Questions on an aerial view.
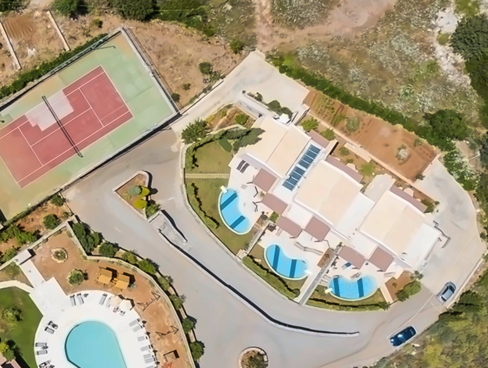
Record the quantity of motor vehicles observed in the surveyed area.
2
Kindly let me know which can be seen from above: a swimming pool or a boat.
swimming pool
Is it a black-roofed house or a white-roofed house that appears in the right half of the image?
white-roofed house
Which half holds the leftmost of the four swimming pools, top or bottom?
bottom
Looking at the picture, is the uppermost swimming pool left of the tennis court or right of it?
to its right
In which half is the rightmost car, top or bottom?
bottom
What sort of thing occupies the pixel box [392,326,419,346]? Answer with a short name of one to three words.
car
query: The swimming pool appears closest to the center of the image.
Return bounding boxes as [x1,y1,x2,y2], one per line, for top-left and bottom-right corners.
[216,187,252,236]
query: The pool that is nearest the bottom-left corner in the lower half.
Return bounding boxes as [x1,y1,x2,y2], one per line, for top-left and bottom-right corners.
[63,318,129,368]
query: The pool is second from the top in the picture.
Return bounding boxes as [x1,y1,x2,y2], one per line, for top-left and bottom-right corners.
[264,243,309,281]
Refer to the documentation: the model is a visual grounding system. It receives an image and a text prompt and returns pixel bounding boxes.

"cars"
[438,280,459,302]
[392,326,419,346]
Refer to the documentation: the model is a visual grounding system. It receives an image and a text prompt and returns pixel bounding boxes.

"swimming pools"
[63,318,129,368]
[328,274,378,301]
[264,243,309,281]
[216,187,252,236]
